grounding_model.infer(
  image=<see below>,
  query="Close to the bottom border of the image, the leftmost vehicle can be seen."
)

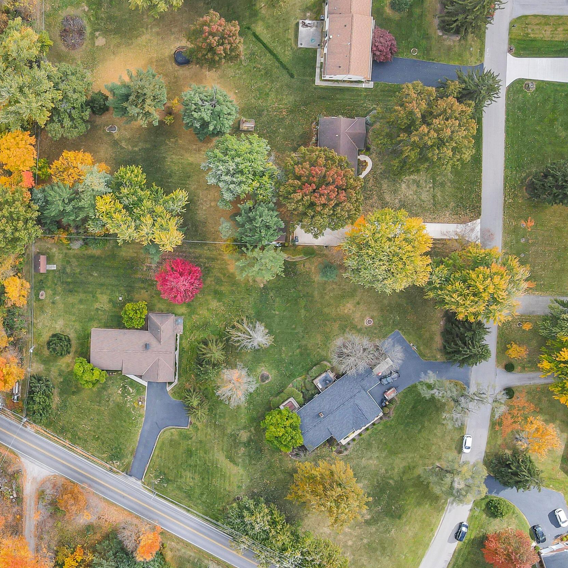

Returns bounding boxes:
[455,522,468,542]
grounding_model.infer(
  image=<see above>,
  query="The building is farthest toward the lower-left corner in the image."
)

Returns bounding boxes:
[90,313,176,382]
